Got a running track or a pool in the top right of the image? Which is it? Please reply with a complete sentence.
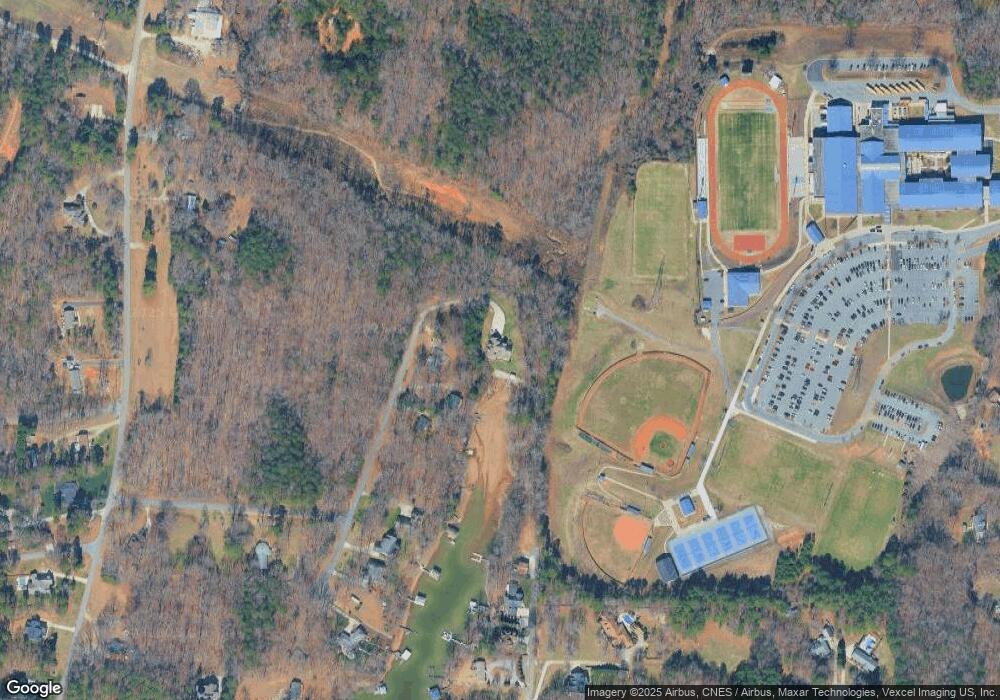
Visible in the top right of the image is a running track.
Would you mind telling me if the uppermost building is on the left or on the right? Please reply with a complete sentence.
It is on the left.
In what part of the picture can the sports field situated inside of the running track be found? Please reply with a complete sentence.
Look in the top right portion of the view to spot the sports field situated inside of the running track.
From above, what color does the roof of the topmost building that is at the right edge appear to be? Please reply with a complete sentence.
The color of the roof on the topmost building that is at the right edge is blue.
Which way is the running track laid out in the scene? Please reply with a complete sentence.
In this picture, the running track lies from top to bottom.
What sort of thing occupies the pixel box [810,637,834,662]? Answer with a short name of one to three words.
house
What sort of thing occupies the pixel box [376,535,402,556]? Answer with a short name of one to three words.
house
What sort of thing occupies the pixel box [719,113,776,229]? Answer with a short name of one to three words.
sports field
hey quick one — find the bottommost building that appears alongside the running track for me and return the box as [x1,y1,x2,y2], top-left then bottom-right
[728,272,761,307]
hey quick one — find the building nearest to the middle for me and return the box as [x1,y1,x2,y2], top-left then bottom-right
[485,332,512,357]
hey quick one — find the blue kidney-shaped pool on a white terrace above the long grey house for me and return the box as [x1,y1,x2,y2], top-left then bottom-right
[857,634,880,656]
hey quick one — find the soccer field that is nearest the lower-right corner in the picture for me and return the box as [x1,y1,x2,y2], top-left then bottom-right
[817,458,904,571]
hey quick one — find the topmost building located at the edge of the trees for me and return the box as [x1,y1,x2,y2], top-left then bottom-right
[189,2,224,39]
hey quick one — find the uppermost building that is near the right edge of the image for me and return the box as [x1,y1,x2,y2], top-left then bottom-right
[813,98,1000,225]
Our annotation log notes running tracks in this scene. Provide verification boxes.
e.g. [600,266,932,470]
[706,79,788,264]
